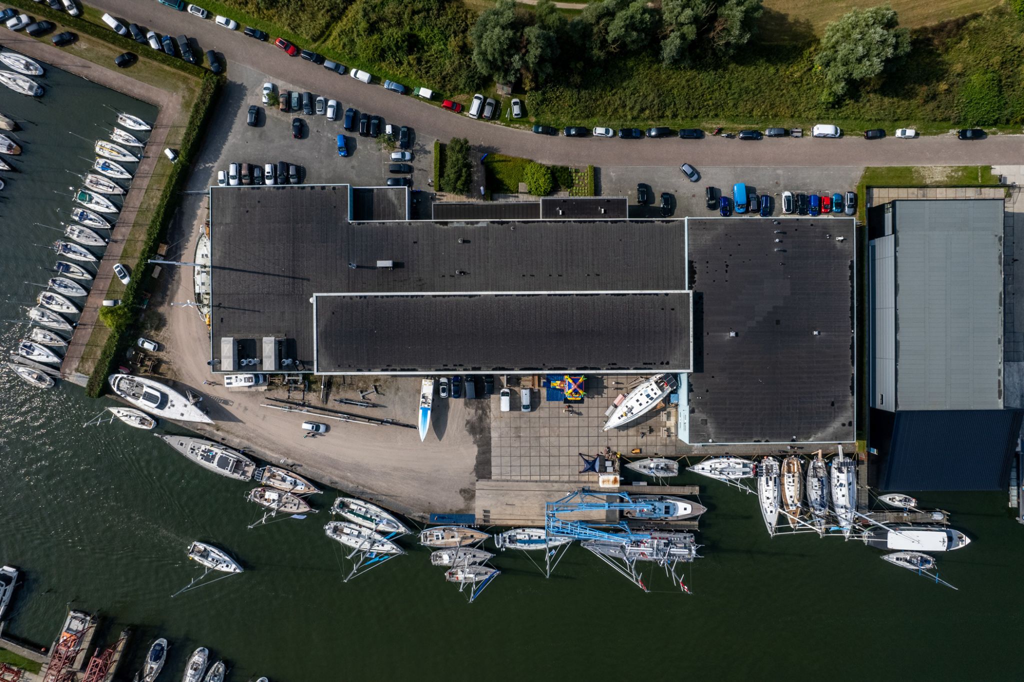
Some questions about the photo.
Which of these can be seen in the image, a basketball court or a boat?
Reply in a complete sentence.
It is a boat that can be seen here.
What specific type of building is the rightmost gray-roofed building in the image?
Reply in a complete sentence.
I'd say the rightmost gray-roofed building is a warehouse.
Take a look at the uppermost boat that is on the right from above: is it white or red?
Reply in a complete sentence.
The color of the uppermost boat that is on the right is white.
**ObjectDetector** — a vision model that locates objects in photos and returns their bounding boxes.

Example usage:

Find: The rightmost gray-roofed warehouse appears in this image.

[873,199,1006,436]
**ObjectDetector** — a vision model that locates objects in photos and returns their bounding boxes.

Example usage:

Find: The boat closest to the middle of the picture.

[419,377,434,441]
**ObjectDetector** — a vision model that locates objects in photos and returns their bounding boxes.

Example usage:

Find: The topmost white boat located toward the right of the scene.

[602,373,681,432]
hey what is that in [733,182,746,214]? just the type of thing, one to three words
vehicle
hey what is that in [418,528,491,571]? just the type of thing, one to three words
boat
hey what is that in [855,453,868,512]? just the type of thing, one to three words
pier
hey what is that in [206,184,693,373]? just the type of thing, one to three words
building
